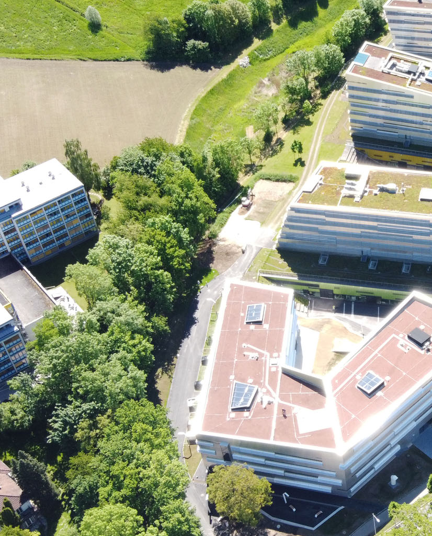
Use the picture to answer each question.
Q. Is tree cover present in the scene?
Yes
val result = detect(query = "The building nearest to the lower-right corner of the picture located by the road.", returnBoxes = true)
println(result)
[191,282,432,500]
